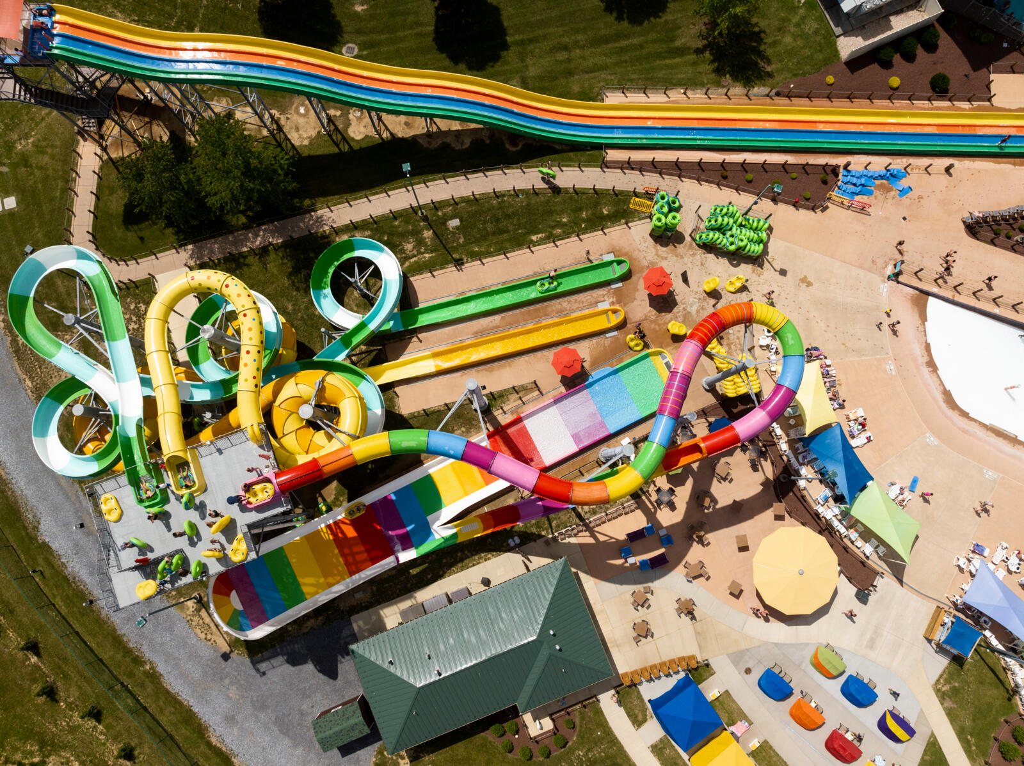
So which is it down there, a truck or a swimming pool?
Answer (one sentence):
Visible in the photo is a swimming pool.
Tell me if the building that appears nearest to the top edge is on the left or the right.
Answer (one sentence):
The building that appears nearest to the top edge is on the right side of the image.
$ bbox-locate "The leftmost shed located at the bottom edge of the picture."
[311,694,375,753]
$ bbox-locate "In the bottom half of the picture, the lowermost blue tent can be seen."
[641,666,725,754]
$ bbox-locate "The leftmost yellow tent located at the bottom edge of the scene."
[680,726,748,766]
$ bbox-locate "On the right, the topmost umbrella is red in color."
[641,268,671,297]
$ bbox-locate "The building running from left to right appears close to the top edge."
[814,0,949,61]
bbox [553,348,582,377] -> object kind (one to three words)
umbrella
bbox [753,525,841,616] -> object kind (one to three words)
umbrella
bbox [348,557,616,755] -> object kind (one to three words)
building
